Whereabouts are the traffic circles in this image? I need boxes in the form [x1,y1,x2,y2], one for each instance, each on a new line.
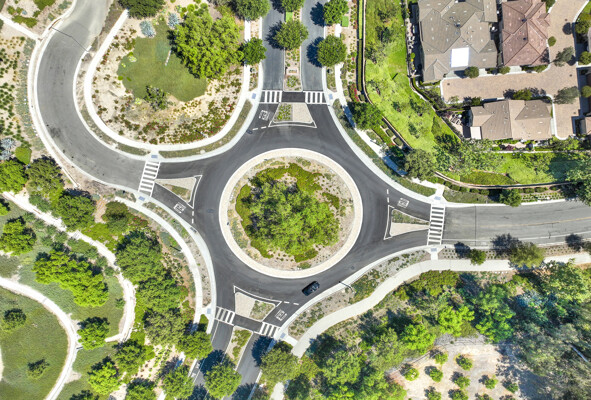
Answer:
[138,91,431,337]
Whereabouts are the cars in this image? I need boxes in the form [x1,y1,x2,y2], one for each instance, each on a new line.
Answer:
[301,281,320,297]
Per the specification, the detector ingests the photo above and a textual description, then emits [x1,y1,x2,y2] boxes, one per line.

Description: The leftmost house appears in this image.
[417,0,497,83]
